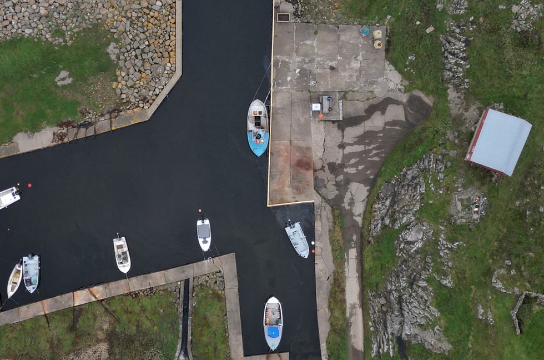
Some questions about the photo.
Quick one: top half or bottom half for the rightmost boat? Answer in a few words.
bottom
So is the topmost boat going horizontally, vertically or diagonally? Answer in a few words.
vertically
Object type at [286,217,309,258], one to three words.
boat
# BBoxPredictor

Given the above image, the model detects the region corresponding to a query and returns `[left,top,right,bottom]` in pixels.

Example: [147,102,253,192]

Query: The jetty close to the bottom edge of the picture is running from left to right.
[0,252,289,360]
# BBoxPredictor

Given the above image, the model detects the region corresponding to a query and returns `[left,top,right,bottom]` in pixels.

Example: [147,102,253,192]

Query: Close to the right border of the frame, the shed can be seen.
[463,107,532,178]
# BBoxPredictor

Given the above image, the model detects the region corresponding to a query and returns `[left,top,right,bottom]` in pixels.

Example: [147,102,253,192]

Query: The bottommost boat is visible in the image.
[263,296,283,351]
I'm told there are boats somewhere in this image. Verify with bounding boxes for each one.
[286,217,309,258]
[263,296,283,351]
[197,211,211,252]
[0,187,26,208]
[23,254,40,294]
[8,258,23,298]
[247,100,269,157]
[113,229,131,273]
